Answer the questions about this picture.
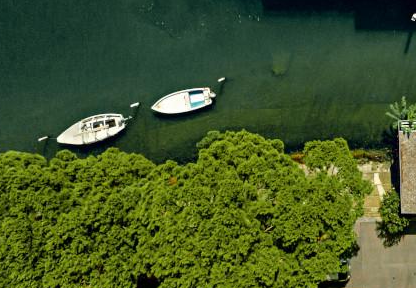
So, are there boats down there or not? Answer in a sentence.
Yes, looking at the shot, I can spot a boat.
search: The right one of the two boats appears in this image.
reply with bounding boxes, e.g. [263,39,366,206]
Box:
[149,86,216,114]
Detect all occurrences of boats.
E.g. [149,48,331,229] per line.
[149,86,216,114]
[55,115,131,145]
